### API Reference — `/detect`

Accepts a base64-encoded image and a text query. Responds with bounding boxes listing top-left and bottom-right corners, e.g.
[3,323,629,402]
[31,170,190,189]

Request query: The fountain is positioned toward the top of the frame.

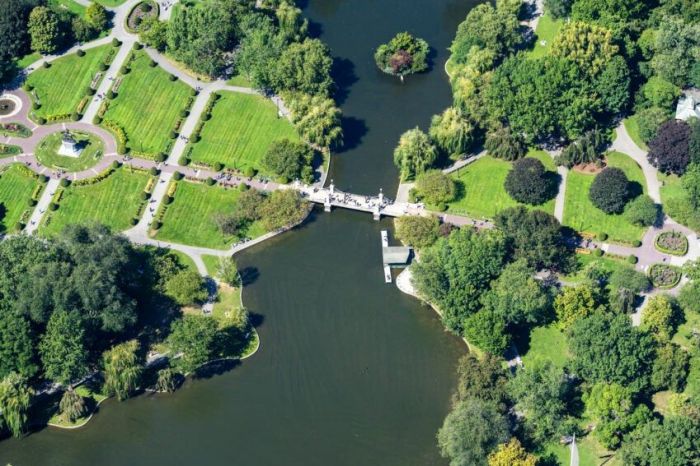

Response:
[0,94,22,117]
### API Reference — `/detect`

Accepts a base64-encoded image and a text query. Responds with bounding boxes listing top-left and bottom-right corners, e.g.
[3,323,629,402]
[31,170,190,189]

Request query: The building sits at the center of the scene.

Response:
[383,246,409,275]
